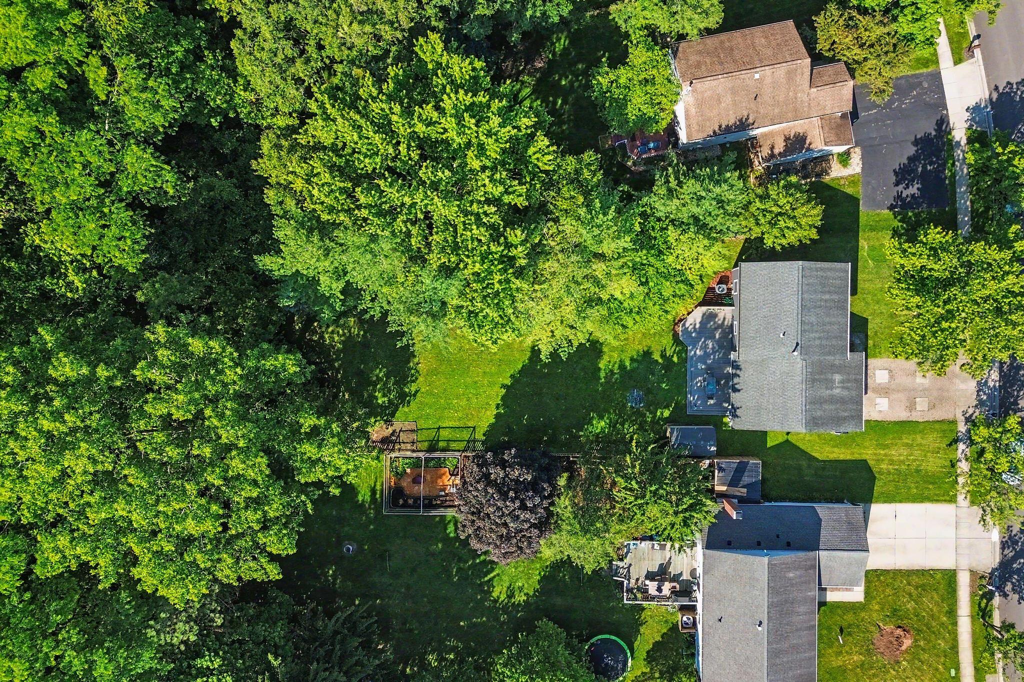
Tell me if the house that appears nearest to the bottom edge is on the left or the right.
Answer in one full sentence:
You can find the house that appears nearest to the bottom edge on the right side of the picture.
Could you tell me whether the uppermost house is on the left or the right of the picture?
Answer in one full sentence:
The uppermost house sits on the right side.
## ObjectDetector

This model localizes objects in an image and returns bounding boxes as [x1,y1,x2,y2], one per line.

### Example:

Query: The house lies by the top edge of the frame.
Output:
[665,19,855,169]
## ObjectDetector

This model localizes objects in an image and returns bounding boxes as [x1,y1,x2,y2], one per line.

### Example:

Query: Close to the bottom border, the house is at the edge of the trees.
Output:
[696,499,869,682]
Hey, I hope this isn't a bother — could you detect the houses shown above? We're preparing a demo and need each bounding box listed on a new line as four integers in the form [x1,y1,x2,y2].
[728,261,865,433]
[665,19,855,169]
[696,499,869,682]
